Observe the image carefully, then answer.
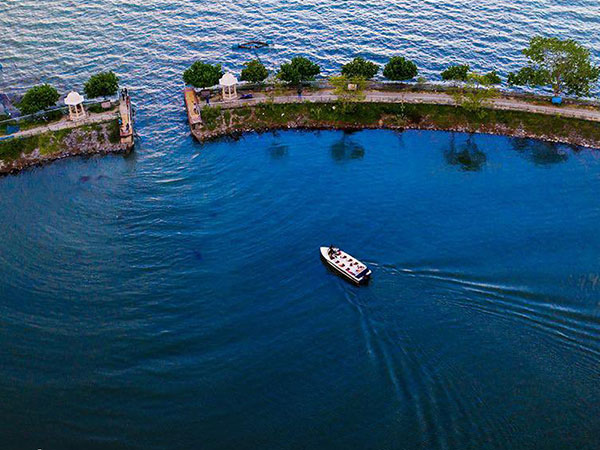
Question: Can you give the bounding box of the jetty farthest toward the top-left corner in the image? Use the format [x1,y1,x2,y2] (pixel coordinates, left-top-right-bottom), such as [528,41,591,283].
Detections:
[117,93,137,148]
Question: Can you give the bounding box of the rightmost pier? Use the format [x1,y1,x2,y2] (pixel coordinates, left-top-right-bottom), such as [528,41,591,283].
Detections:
[182,87,207,137]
